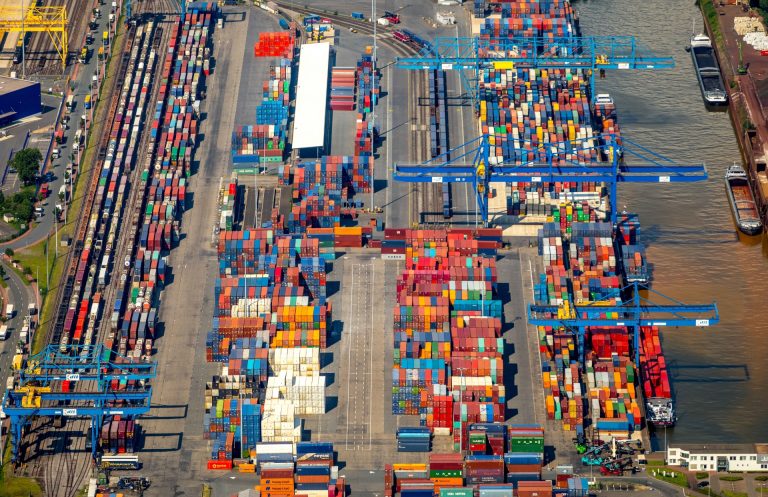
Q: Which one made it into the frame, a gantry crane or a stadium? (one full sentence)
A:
There is a gantry crane in the scene.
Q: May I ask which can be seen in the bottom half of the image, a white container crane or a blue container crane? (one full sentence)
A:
The one visible in the bottom half of the image is a blue container crane.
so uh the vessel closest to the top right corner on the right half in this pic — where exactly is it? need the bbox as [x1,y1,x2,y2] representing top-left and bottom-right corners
[687,22,727,109]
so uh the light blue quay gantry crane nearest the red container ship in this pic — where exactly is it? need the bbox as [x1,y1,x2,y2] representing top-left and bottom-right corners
[525,271,720,391]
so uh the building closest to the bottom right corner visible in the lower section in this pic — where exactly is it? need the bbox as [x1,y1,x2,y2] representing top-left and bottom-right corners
[666,436,768,472]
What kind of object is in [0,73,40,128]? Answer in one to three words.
building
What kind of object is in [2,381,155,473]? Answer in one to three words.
container crane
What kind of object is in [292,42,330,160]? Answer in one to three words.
shed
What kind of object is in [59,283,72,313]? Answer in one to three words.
rail car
